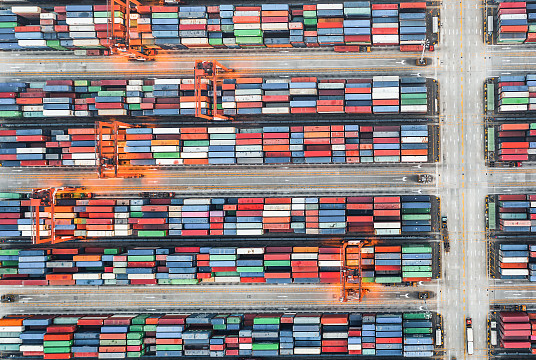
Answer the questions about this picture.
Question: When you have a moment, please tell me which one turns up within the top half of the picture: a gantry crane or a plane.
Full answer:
There is a gantry crane within the top half of the picture.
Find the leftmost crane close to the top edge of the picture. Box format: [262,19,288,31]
[106,0,157,60]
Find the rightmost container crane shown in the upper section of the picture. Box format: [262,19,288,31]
[194,59,236,120]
